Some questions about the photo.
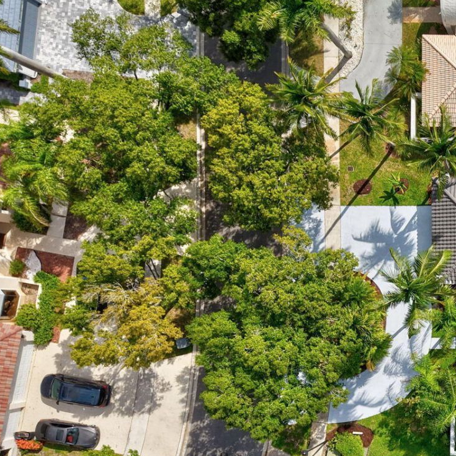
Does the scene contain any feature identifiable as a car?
Yes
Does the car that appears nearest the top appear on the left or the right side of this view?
left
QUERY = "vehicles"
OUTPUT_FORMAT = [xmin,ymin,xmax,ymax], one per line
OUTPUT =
[34,375,109,409]
[29,421,100,455]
